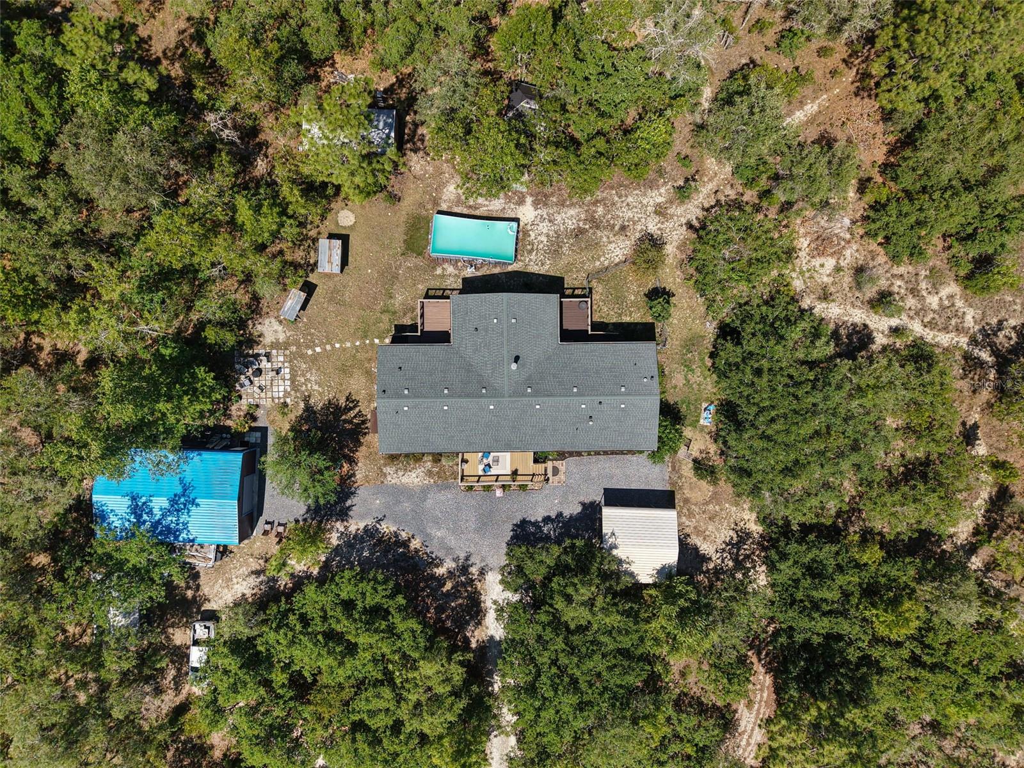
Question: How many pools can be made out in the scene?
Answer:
1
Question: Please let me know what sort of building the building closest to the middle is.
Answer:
residential house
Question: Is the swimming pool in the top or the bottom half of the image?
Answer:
top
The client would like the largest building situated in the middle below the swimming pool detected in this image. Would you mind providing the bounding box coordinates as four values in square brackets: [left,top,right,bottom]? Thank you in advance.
[376,293,659,454]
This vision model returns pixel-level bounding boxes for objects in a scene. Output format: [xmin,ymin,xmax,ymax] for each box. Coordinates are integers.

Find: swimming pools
[428,214,522,268]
